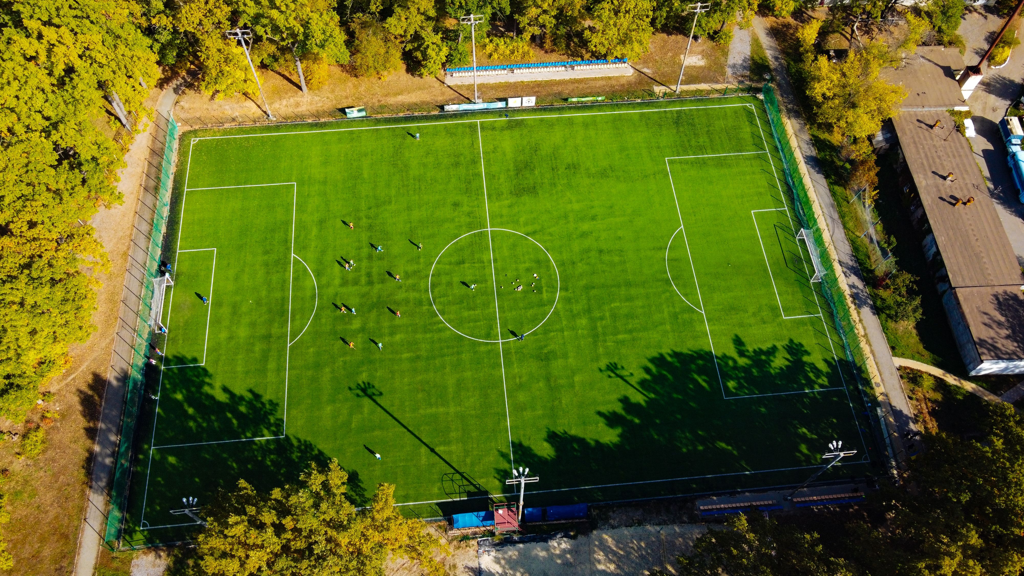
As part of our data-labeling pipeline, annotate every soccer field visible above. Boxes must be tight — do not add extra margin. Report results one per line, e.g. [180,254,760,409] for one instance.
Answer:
[123,95,889,548]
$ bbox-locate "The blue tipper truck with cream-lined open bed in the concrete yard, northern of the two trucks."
[997,116,1024,160]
